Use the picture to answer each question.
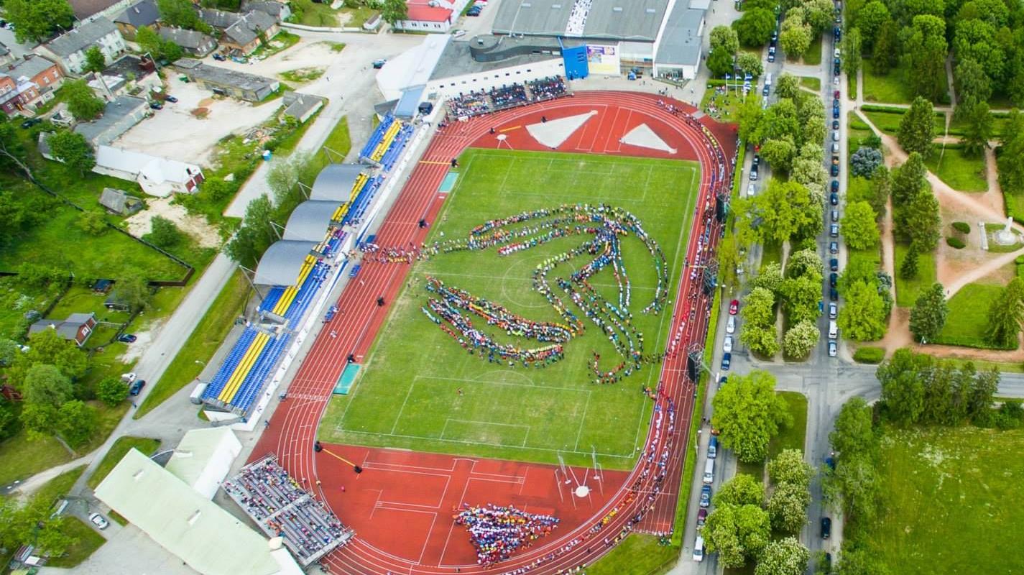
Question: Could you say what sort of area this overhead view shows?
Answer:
sports ground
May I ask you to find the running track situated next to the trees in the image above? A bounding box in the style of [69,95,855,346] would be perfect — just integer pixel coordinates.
[251,89,738,575]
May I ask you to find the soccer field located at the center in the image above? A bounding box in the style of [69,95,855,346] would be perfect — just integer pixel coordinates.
[316,150,703,471]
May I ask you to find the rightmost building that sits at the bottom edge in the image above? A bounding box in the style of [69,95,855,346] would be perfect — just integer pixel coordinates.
[93,425,307,575]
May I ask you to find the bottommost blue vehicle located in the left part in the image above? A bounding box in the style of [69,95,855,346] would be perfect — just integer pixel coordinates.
[129,380,149,397]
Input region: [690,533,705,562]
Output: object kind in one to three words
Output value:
vehicle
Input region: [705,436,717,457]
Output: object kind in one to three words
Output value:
vehicle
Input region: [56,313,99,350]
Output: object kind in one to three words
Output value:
house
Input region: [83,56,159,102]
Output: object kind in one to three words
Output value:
building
